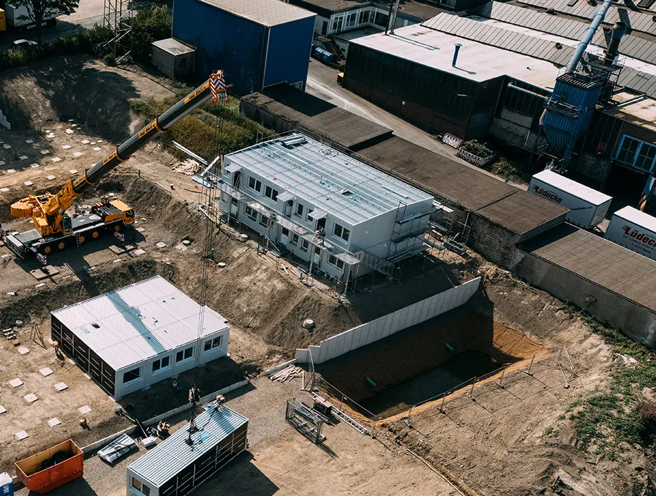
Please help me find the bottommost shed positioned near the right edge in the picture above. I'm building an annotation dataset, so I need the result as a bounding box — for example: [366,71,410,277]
[514,222,656,335]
